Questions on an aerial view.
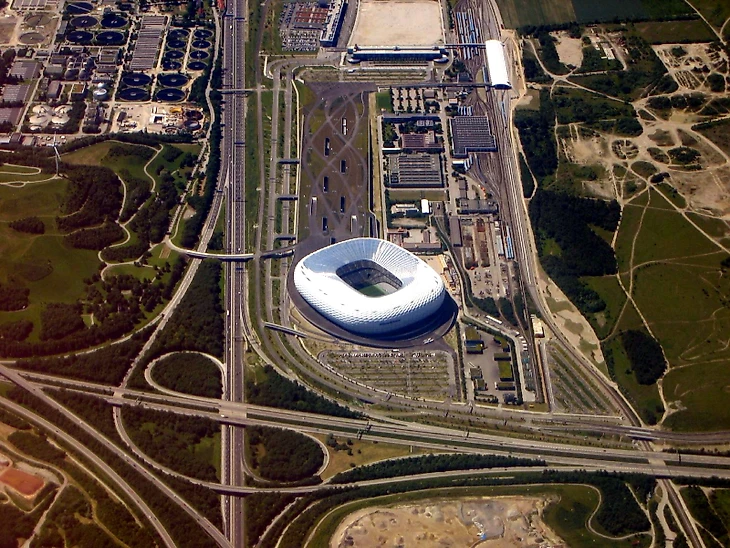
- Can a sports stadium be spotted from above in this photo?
Yes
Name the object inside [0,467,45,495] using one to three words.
sports field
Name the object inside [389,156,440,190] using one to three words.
building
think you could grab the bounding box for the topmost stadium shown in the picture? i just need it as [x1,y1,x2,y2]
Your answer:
[293,239,447,340]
